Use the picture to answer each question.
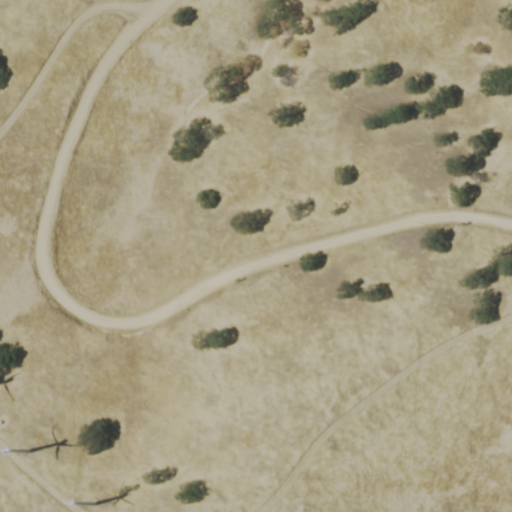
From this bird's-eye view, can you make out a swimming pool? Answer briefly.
No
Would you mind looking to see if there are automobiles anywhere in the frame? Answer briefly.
No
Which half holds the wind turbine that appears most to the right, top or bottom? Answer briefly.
bottom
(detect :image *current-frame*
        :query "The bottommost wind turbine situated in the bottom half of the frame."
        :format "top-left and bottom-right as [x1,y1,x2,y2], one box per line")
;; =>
[62,489,99,512]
